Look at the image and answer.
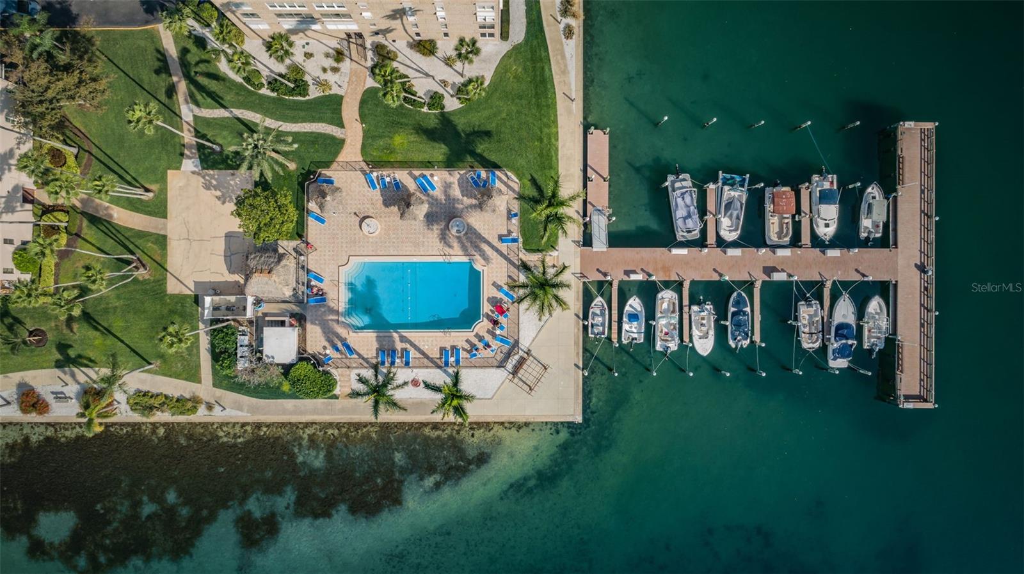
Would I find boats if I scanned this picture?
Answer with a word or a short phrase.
Yes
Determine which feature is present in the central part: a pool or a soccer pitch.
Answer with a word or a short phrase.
pool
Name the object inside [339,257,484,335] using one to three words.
swimming pool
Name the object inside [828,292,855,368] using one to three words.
boat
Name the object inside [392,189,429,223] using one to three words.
umbrella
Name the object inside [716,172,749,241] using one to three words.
boat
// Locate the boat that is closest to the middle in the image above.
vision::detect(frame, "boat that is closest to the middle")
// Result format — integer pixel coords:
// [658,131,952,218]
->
[589,297,607,343]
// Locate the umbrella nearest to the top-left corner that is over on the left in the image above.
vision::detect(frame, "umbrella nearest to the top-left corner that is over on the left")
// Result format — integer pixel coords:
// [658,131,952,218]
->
[311,182,345,218]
